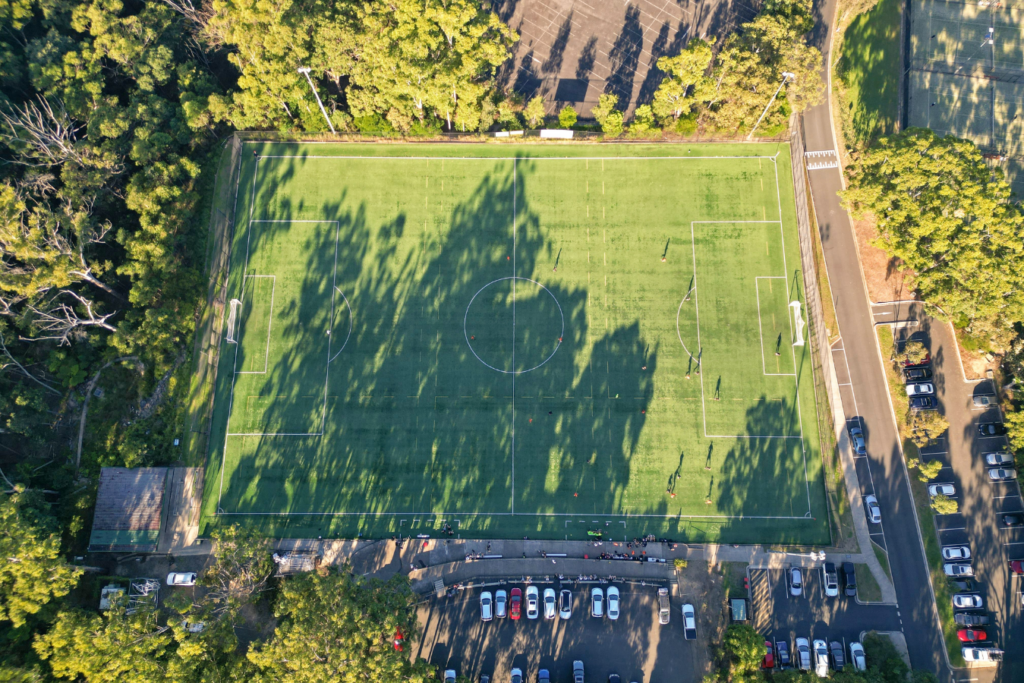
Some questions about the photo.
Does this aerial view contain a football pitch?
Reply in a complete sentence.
Yes, this view includes a football pitch.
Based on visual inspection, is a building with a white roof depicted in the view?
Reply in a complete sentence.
No, no building with a white roof can be seen from above.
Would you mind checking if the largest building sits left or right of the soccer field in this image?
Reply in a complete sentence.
To the left of the soccer field is where the largest building appears.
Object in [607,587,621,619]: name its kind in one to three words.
car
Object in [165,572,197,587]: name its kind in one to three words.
vehicle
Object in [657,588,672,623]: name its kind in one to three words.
vehicle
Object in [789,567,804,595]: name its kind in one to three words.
car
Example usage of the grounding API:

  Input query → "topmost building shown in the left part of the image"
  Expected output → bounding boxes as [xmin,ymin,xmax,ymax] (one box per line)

[87,467,170,553]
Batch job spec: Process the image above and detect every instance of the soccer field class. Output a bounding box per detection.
[198,142,832,544]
